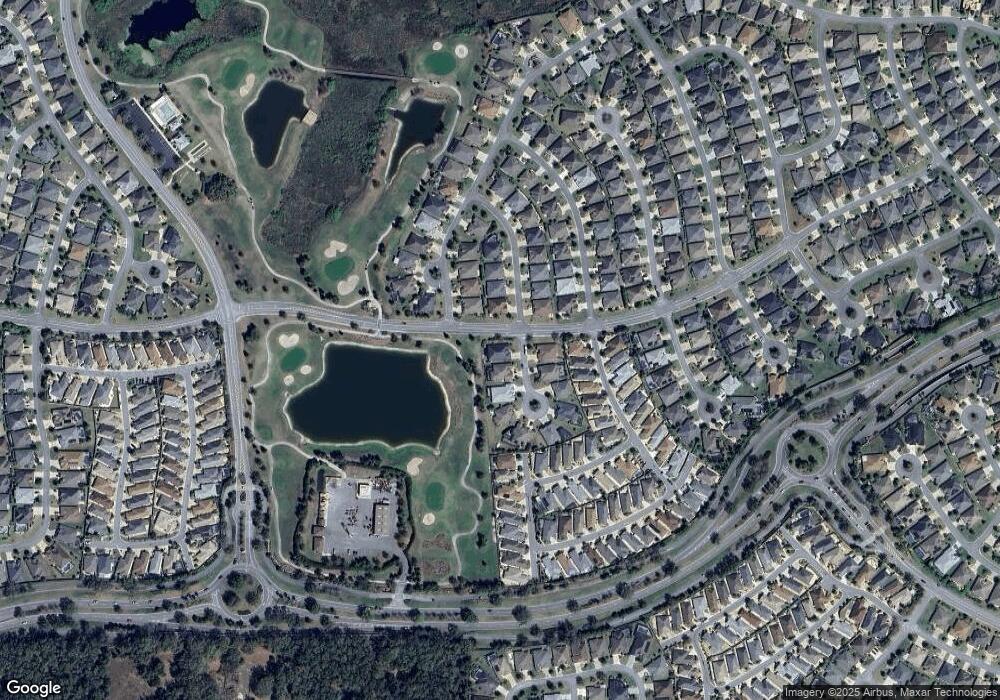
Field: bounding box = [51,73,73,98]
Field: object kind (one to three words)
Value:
house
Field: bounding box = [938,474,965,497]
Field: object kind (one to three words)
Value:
house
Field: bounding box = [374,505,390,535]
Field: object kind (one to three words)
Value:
barn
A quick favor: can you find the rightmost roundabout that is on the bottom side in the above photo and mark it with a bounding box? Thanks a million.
[773,421,839,485]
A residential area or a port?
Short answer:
residential area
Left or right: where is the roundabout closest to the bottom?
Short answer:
left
